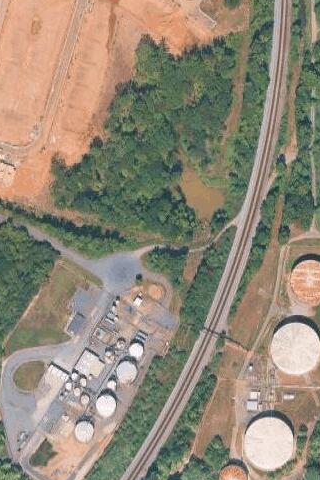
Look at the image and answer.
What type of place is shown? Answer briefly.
industrial area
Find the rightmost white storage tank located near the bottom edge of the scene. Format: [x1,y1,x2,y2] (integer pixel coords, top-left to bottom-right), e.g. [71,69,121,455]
[243,418,296,470]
